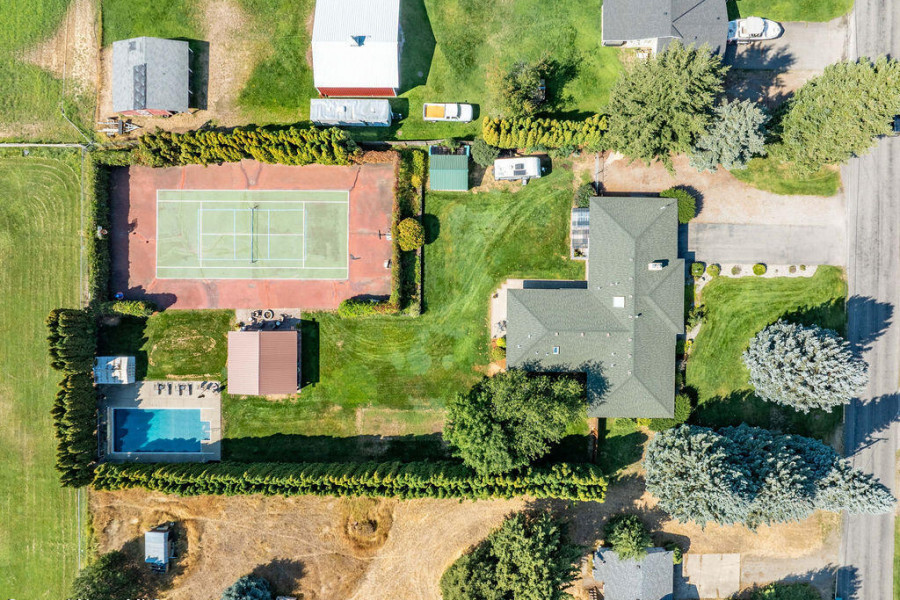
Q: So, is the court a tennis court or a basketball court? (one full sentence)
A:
The court can be classified as a tennis court.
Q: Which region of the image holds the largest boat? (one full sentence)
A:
Look in the top right portion of the view to spot the largest boat.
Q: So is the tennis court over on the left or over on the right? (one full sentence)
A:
The tennis court appears in the left half of the scene.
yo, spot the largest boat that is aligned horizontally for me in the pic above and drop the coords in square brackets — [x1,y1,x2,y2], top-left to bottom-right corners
[728,18,784,42]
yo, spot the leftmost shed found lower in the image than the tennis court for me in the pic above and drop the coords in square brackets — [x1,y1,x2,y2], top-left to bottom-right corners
[95,356,143,384]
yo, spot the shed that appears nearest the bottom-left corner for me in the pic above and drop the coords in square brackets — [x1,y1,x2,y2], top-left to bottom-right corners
[145,526,184,572]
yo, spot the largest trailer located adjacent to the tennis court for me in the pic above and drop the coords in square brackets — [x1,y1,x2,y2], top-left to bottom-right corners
[312,99,402,128]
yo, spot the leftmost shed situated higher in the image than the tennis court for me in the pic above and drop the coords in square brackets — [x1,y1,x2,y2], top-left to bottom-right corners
[113,37,194,115]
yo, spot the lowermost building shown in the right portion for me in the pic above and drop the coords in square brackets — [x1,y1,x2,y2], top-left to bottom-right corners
[592,542,674,600]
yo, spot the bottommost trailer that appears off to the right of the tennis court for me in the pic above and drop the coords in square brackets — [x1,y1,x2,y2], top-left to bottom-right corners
[493,158,546,188]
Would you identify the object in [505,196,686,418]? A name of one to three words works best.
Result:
house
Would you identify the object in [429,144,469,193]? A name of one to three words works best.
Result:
shed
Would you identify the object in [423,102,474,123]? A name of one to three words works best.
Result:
truck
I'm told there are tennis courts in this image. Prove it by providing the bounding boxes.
[108,158,397,312]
